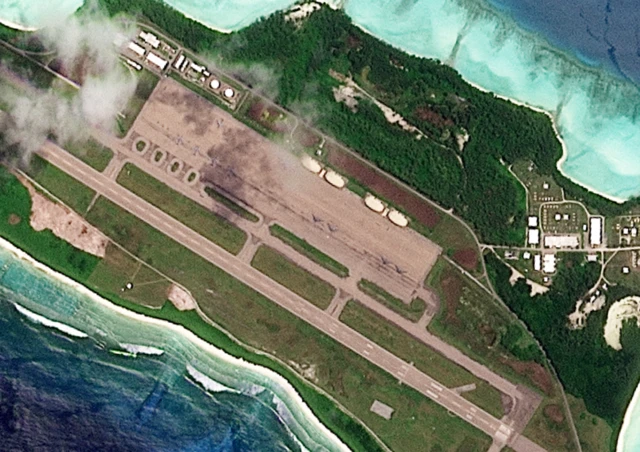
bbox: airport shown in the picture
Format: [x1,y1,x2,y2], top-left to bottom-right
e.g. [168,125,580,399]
[0,67,549,452]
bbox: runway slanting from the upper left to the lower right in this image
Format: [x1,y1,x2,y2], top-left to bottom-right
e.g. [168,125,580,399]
[0,111,524,449]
